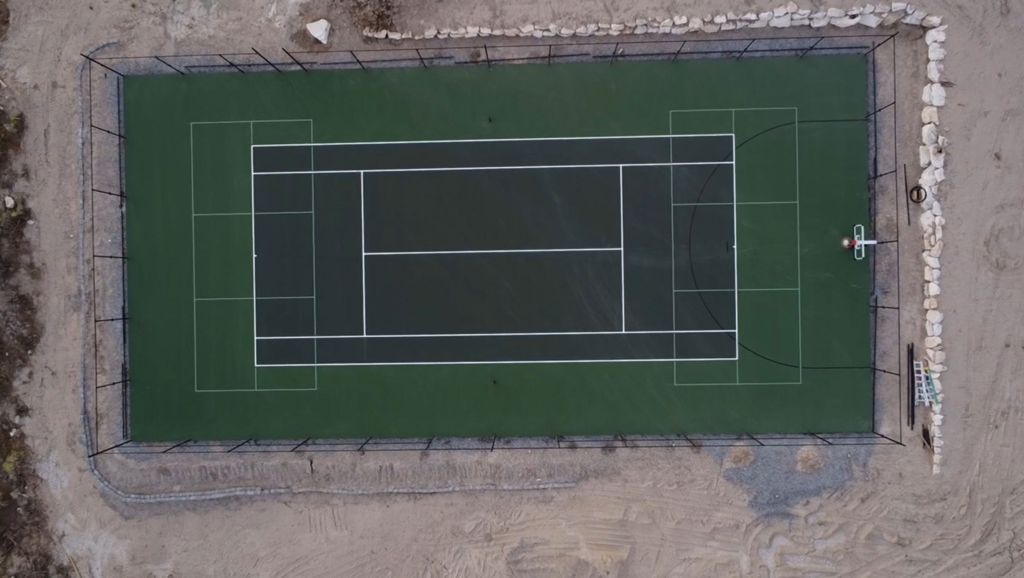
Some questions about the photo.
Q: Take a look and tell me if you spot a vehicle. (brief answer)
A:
No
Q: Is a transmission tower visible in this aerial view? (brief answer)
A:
No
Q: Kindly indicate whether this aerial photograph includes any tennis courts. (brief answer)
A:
Yes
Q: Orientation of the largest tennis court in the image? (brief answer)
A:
from side to side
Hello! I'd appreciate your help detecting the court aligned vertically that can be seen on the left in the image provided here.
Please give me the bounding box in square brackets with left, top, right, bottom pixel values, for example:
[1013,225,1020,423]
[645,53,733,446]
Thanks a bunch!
[191,119,317,391]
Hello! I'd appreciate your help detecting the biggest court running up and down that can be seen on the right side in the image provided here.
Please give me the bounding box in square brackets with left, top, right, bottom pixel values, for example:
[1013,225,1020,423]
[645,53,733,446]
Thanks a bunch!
[670,107,801,385]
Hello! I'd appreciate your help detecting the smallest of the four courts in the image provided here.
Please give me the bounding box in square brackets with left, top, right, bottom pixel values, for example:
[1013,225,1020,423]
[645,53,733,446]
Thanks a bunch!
[689,119,871,368]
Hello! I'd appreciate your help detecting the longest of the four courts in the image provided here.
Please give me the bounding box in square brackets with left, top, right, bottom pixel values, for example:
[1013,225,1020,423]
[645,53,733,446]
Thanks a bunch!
[124,55,873,441]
